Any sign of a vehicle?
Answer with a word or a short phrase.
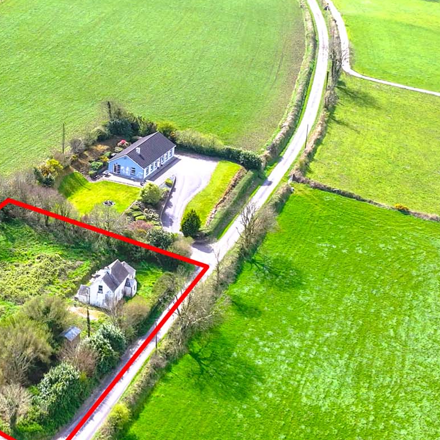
No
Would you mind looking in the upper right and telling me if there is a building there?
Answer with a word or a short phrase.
No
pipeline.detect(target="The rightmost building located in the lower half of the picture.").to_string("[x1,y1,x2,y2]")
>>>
[78,257,143,309]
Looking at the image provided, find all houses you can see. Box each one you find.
[78,257,143,309]
[109,133,174,181]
